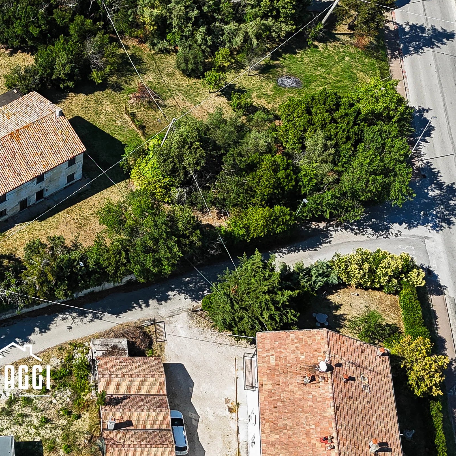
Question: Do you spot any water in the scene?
No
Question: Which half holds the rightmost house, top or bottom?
bottom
